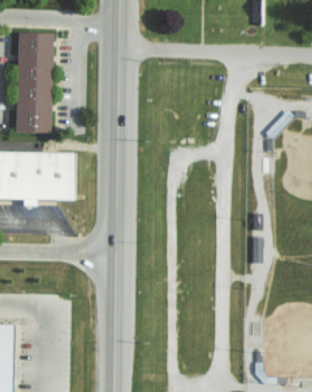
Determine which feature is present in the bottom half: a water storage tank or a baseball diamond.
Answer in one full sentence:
Looking in the bottom half, you will find a baseball diamond.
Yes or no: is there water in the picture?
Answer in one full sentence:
No, no water is visible.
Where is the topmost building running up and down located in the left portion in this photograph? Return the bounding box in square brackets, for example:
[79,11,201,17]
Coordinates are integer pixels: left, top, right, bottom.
[16,33,54,133]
